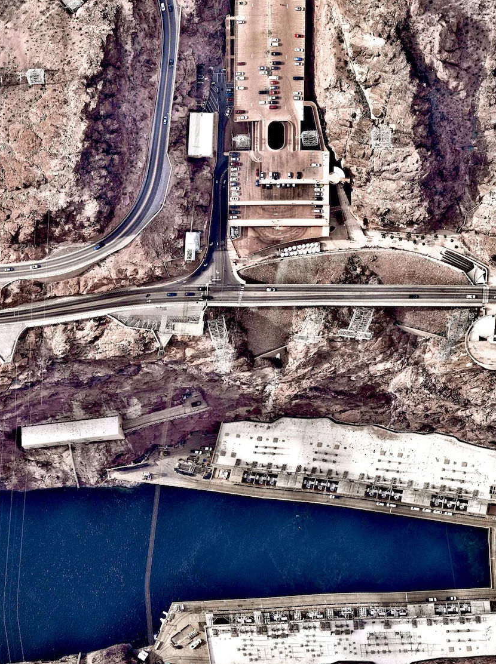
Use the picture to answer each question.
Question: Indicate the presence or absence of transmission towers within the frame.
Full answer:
Yes, there is a transmission tower in the image.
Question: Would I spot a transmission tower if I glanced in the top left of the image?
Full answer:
Yes, a transmission tower shows up in the top left of the image.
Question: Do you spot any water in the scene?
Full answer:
Yes, there's water in this view.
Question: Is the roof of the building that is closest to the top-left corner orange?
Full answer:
No, from above the roof of the building that is closest to the top-left corner looks white.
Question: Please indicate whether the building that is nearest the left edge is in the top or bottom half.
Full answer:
You can find the building that is nearest the left edge in the bottom half.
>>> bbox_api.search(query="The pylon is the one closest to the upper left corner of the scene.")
[26,68,43,89]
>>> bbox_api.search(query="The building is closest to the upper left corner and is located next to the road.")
[189,112,218,158]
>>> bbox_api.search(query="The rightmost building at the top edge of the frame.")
[225,0,342,257]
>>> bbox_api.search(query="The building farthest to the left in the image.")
[21,417,128,452]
